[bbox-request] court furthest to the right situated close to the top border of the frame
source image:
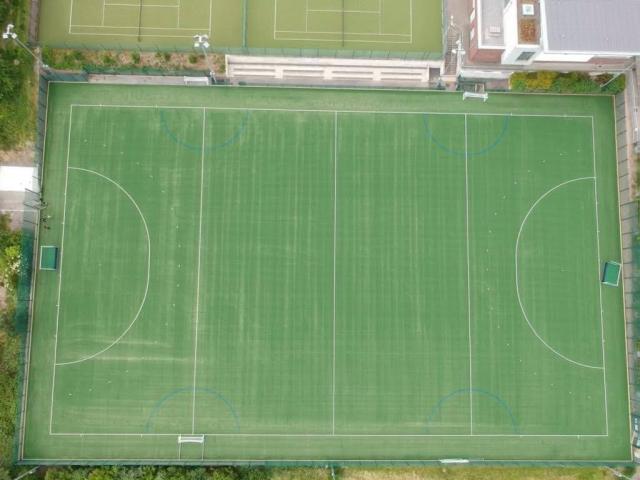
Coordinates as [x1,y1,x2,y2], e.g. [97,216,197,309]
[244,0,441,59]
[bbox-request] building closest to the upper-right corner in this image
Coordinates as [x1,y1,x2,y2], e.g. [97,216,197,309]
[532,0,640,64]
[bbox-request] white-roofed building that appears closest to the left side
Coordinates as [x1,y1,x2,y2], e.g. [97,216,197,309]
[469,0,506,61]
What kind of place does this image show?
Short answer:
sports ground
